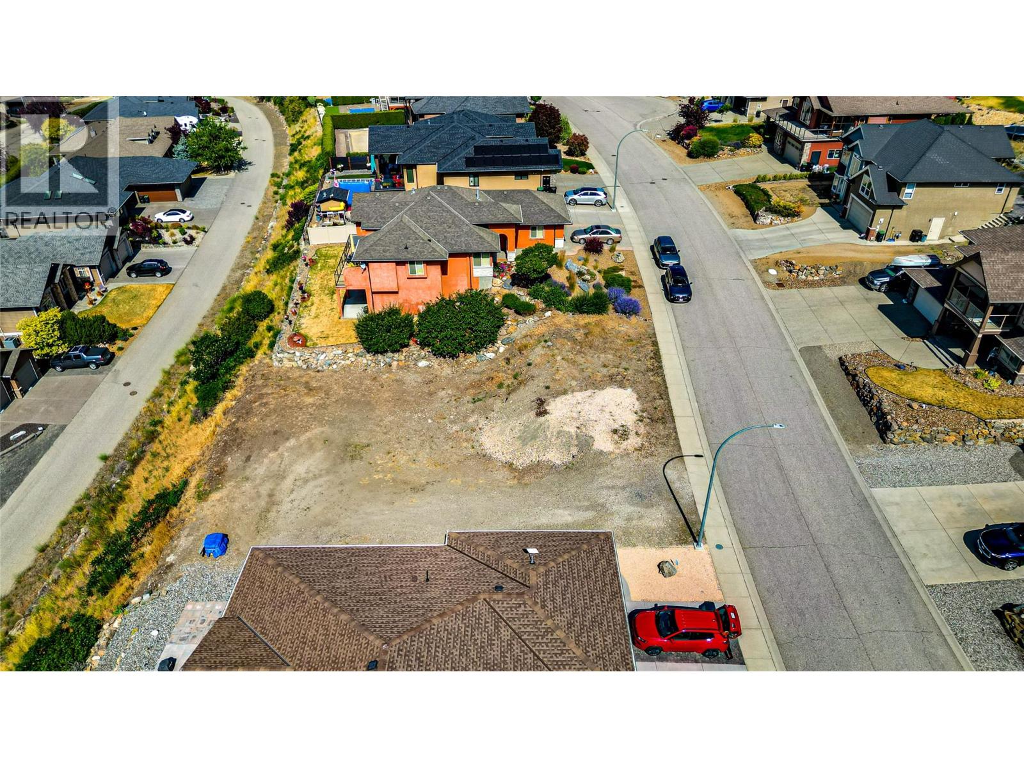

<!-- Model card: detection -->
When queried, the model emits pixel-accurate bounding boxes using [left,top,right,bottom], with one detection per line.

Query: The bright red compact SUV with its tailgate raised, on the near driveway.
[631,603,750,658]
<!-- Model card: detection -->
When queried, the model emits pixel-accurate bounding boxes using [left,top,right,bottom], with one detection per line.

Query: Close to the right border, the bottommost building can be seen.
[900,231,1024,389]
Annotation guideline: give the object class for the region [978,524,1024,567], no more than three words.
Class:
car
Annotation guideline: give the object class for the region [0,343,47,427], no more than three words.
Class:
house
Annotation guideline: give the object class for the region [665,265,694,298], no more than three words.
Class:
car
